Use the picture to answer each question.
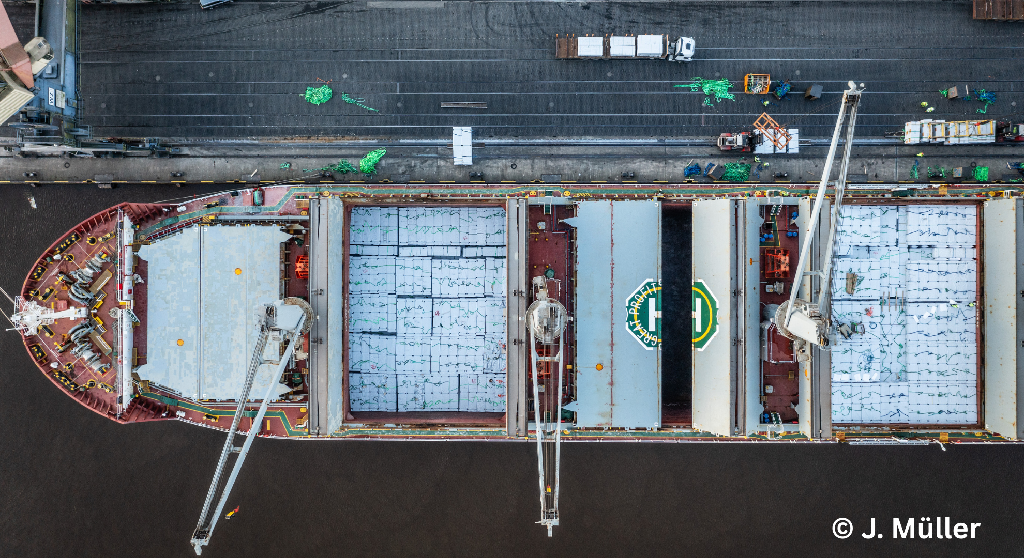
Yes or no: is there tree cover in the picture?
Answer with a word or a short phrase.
No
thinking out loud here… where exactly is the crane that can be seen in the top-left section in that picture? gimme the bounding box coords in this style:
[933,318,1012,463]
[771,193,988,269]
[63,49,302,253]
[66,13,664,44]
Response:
[0,0,179,158]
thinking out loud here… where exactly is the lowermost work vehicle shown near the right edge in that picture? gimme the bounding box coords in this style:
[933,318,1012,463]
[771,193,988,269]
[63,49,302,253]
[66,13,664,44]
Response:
[995,122,1024,142]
